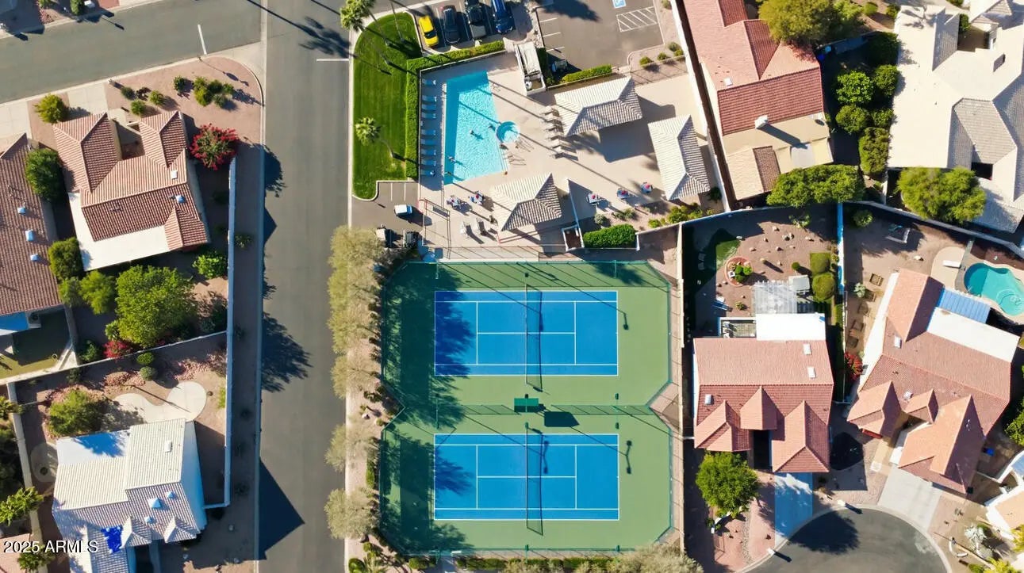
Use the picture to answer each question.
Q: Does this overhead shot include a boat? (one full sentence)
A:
No, there appears to be no boat in this shot.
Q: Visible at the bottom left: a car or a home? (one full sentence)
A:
What appears at the bottom left is a home.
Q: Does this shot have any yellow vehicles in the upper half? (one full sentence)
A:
Yes, a yellow vehicle can be seen in the upper half.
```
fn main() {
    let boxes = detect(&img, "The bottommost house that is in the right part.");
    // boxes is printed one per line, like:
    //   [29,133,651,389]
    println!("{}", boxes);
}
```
[974,443,1024,530]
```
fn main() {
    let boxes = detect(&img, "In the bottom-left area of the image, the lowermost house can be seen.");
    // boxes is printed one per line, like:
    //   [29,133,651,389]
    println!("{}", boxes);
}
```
[52,418,208,573]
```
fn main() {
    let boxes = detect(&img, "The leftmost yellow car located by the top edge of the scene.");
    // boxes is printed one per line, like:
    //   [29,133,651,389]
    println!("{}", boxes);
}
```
[419,16,439,47]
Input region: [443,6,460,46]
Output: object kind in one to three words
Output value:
car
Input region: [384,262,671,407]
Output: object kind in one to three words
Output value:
tennis court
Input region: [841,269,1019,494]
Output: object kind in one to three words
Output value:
house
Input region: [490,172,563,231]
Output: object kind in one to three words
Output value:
building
